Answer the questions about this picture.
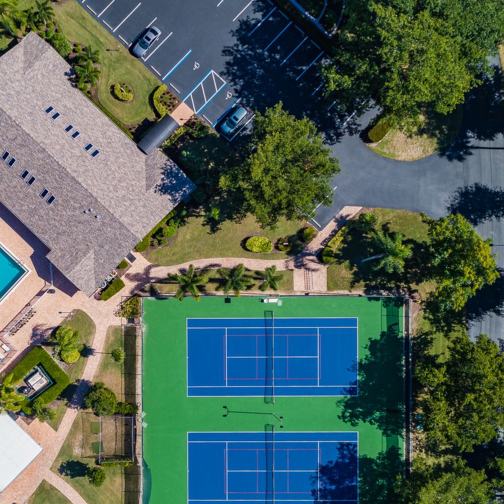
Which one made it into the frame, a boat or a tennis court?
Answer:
tennis court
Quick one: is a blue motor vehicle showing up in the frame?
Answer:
Yes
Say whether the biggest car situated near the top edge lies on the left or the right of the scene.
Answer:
left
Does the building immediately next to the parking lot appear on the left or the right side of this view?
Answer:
left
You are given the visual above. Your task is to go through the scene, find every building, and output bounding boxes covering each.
[0,31,195,296]
[0,412,43,493]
